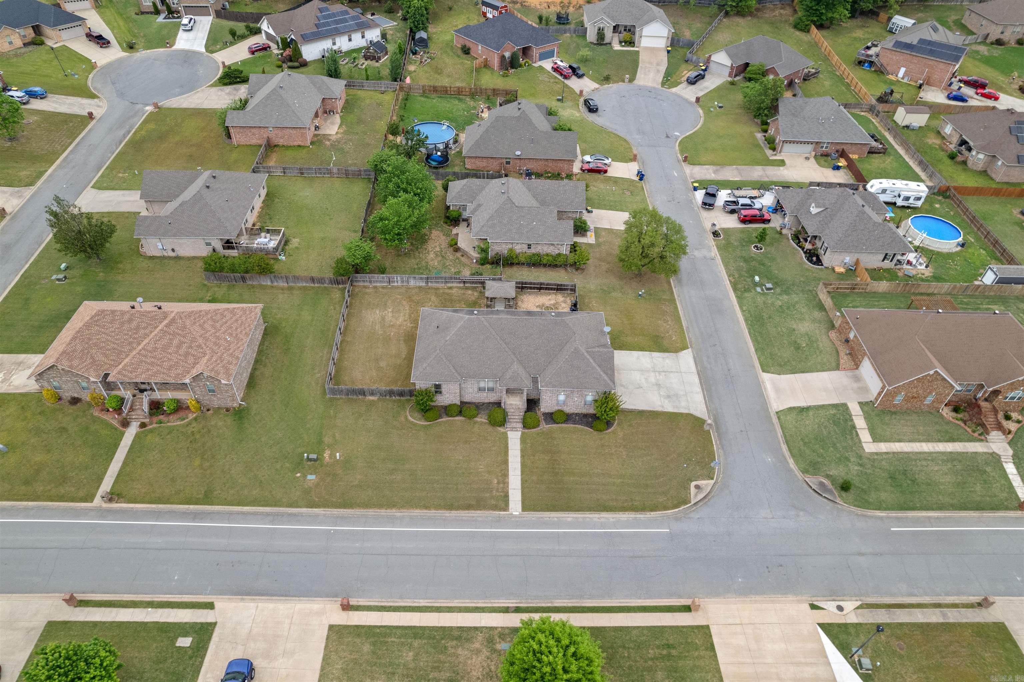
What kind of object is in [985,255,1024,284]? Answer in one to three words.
shed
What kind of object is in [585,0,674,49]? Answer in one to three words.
house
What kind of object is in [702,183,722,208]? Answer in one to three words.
vehicle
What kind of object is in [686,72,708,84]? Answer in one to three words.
vehicle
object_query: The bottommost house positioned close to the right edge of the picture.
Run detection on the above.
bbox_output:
[836,306,1024,434]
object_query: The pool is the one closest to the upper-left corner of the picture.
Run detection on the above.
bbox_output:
[411,119,455,151]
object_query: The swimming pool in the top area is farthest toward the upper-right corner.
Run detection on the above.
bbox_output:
[902,215,965,250]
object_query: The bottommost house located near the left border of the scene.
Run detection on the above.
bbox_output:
[26,296,271,421]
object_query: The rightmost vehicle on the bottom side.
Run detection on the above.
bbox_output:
[211,654,252,682]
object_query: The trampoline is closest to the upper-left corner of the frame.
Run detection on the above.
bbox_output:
[423,146,450,168]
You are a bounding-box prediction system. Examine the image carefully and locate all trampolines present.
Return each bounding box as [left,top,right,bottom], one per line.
[423,146,450,168]
[555,10,571,23]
